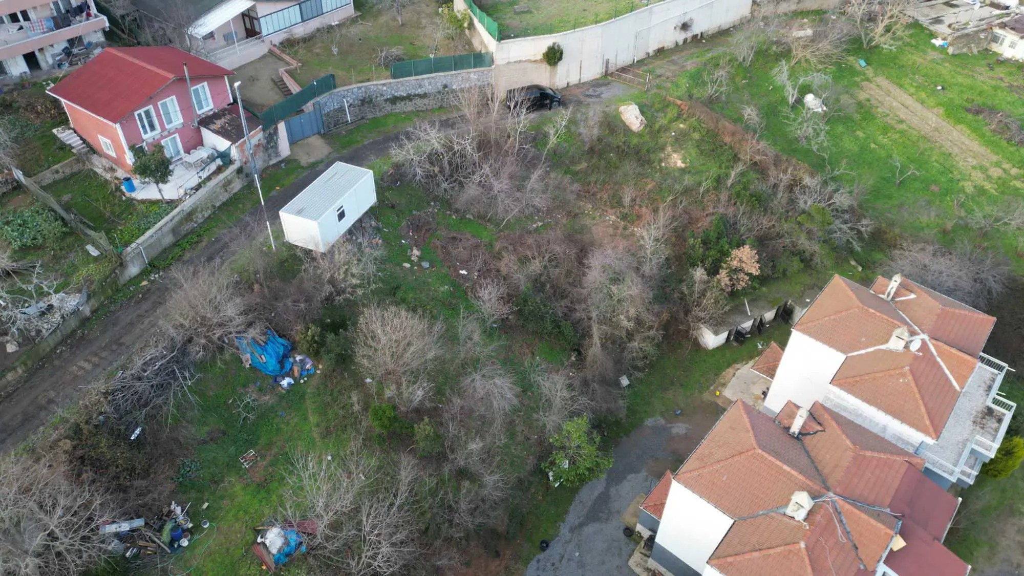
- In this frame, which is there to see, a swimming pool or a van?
van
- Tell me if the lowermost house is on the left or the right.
right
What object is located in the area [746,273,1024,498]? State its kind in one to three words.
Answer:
house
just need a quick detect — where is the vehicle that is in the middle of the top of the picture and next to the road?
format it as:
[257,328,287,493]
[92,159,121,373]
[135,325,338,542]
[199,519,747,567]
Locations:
[507,82,564,112]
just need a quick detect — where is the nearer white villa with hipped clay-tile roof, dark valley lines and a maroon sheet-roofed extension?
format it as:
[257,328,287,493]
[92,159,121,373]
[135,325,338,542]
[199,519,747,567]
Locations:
[637,396,971,576]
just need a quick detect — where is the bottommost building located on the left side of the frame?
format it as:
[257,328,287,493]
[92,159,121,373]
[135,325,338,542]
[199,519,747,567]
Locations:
[280,162,379,266]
